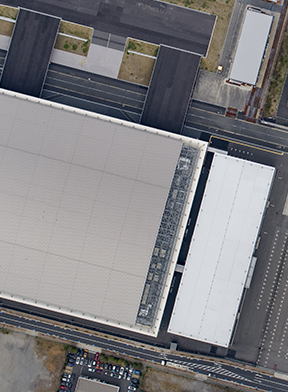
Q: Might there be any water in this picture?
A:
No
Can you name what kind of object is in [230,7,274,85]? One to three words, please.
building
